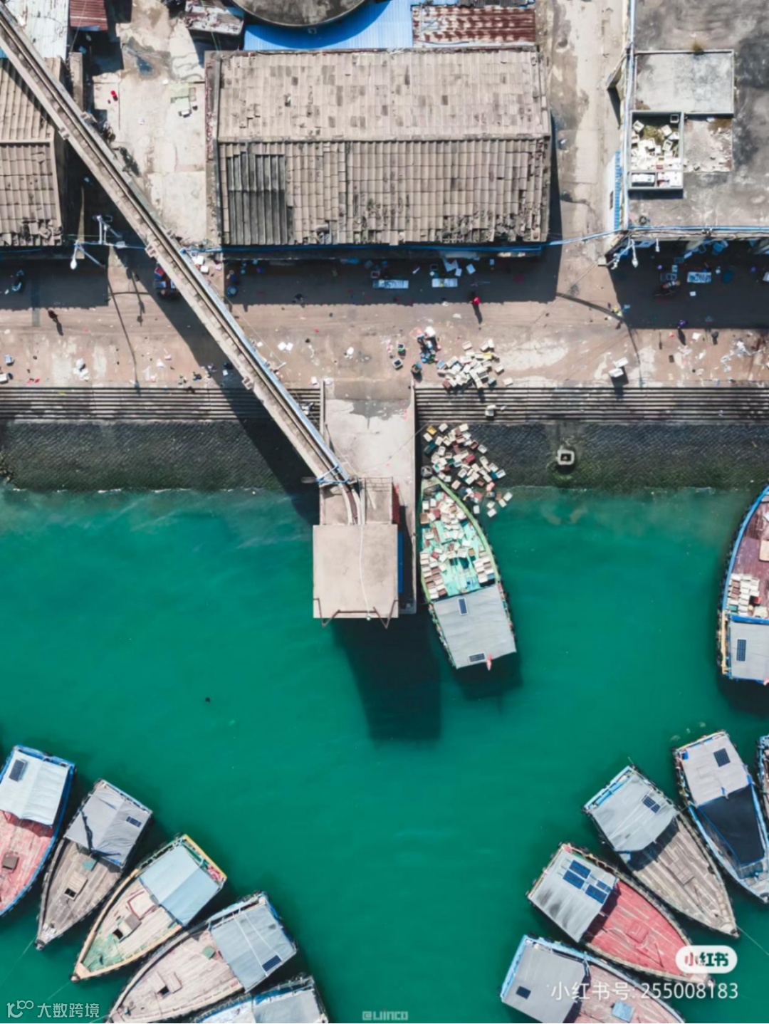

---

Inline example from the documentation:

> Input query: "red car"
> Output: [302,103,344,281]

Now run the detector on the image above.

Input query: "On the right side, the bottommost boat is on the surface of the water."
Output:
[501,935,682,1024]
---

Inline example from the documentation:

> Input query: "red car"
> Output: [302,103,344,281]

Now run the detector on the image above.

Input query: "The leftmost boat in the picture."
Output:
[0,747,78,925]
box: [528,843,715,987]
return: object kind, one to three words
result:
boat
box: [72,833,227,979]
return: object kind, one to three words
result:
boat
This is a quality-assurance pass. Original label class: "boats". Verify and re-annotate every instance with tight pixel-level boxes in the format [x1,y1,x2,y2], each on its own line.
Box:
[582,765,738,936]
[718,478,769,681]
[180,973,329,1024]
[105,890,297,1024]
[670,728,769,903]
[501,935,682,1024]
[528,843,715,987]
[754,732,769,824]
[415,475,517,670]
[36,780,153,949]
[0,747,78,925]
[72,833,227,979]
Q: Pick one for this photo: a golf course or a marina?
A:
marina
